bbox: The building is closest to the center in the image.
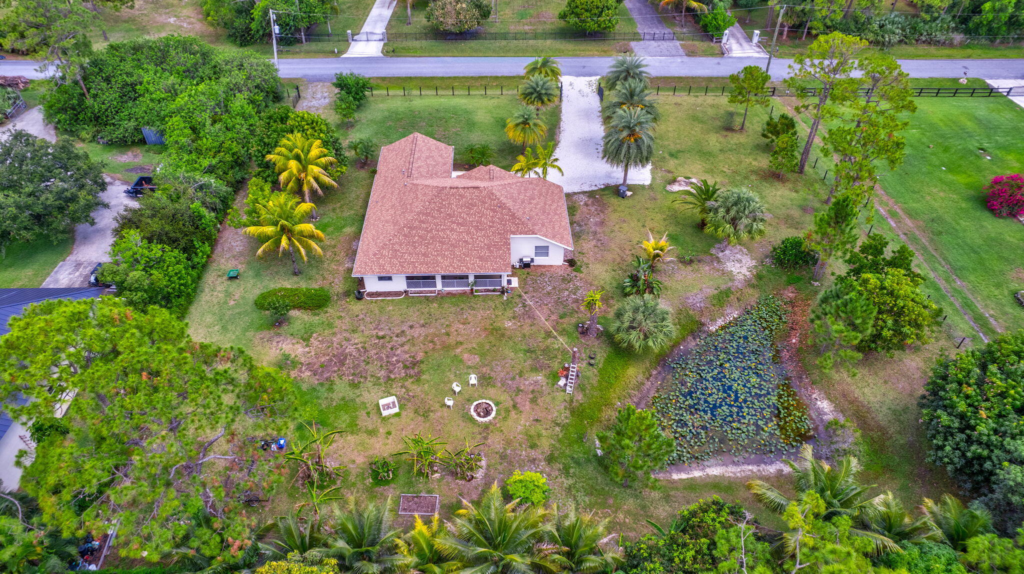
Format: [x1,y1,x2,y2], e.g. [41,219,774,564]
[349,132,572,293]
